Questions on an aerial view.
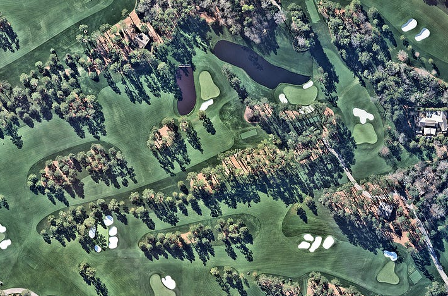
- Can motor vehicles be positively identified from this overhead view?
No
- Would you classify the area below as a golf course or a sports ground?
golf course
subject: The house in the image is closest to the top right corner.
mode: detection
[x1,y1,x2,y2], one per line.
[416,110,448,135]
